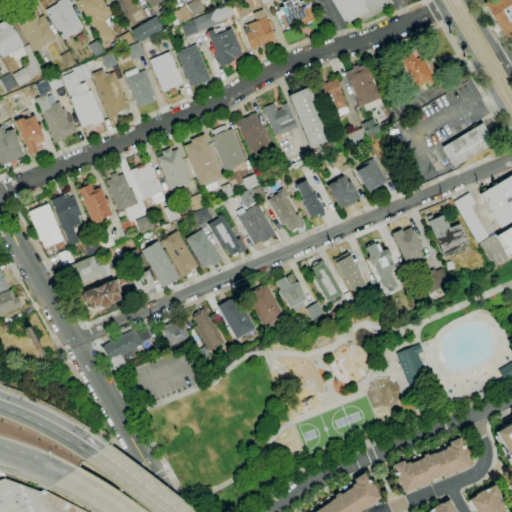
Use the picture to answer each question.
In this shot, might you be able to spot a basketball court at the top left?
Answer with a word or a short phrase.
No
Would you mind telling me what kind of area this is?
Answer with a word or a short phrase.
residential area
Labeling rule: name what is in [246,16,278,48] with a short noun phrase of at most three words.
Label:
house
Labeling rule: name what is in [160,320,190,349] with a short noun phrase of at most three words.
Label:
house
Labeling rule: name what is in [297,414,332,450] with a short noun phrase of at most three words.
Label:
basketball court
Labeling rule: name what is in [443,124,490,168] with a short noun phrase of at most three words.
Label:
building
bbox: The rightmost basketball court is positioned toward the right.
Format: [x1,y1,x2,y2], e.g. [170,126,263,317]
[322,396,376,439]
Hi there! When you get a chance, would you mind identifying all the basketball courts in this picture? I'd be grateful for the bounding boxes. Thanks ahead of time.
[322,396,376,439]
[297,414,332,450]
